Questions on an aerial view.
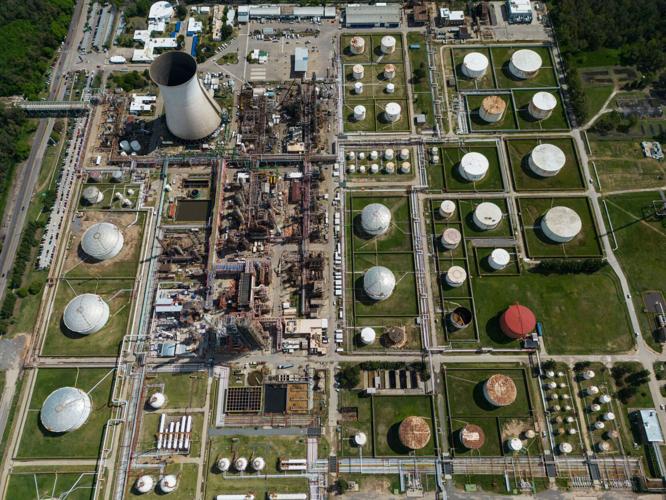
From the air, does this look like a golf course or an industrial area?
industrial area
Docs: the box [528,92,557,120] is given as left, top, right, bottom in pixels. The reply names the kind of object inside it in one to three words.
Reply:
storage tank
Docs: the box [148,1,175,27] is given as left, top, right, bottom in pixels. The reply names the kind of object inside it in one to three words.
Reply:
building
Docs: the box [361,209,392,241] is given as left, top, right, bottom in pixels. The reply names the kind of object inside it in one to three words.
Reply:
storage tank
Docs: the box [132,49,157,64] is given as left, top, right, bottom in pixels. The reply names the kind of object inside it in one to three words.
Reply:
building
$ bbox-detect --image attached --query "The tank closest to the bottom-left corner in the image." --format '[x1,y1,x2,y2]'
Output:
[43,388,92,436]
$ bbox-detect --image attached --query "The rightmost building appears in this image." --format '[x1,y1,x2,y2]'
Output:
[637,409,665,442]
